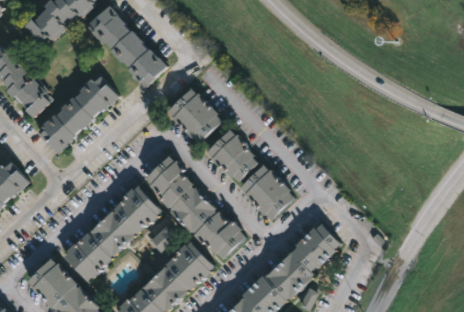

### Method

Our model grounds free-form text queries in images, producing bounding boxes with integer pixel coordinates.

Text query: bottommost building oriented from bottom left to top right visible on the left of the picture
[122,244,216,312]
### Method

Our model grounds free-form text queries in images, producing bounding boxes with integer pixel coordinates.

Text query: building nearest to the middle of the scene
[210,130,262,184]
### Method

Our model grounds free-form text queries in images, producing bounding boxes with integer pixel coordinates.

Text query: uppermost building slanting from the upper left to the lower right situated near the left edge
[0,50,54,119]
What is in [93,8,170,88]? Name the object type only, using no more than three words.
building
